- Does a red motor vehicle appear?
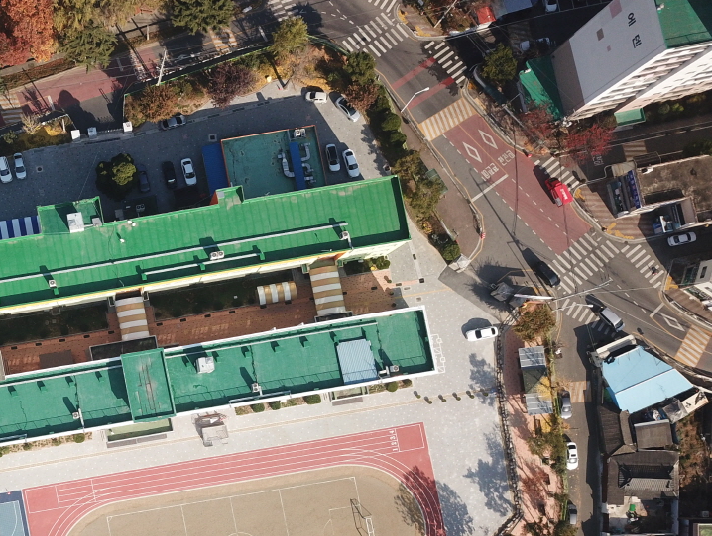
Yes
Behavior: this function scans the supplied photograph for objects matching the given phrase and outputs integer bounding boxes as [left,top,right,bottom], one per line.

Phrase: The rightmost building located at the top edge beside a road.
[553,0,712,122]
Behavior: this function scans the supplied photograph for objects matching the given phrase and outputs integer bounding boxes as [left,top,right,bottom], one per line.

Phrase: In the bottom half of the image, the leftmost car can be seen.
[467,327,494,340]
